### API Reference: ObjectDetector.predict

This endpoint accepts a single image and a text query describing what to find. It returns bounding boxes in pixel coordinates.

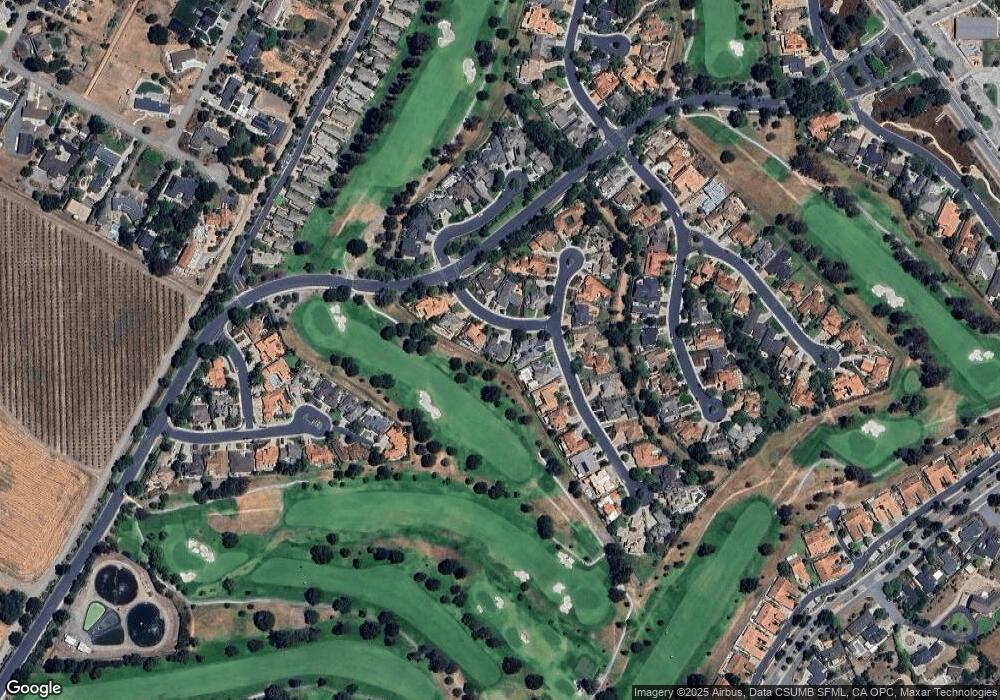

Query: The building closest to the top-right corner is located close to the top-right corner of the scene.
[957,16,999,39]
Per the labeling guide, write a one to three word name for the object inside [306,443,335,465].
house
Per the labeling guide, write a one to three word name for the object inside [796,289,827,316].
house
